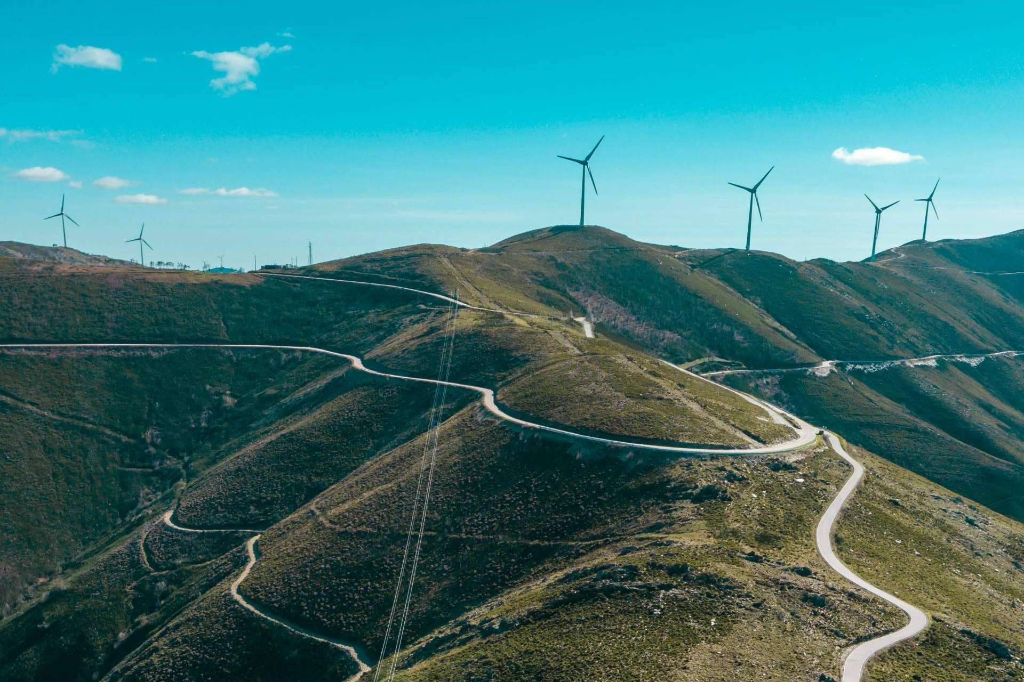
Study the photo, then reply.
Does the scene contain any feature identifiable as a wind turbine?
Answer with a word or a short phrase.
Yes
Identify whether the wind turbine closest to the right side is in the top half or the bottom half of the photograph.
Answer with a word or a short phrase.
top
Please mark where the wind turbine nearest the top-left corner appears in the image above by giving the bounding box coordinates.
[42,195,80,247]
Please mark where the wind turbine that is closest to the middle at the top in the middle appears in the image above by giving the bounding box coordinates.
[554,130,603,227]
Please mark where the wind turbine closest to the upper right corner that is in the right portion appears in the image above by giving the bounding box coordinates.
[908,177,938,240]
